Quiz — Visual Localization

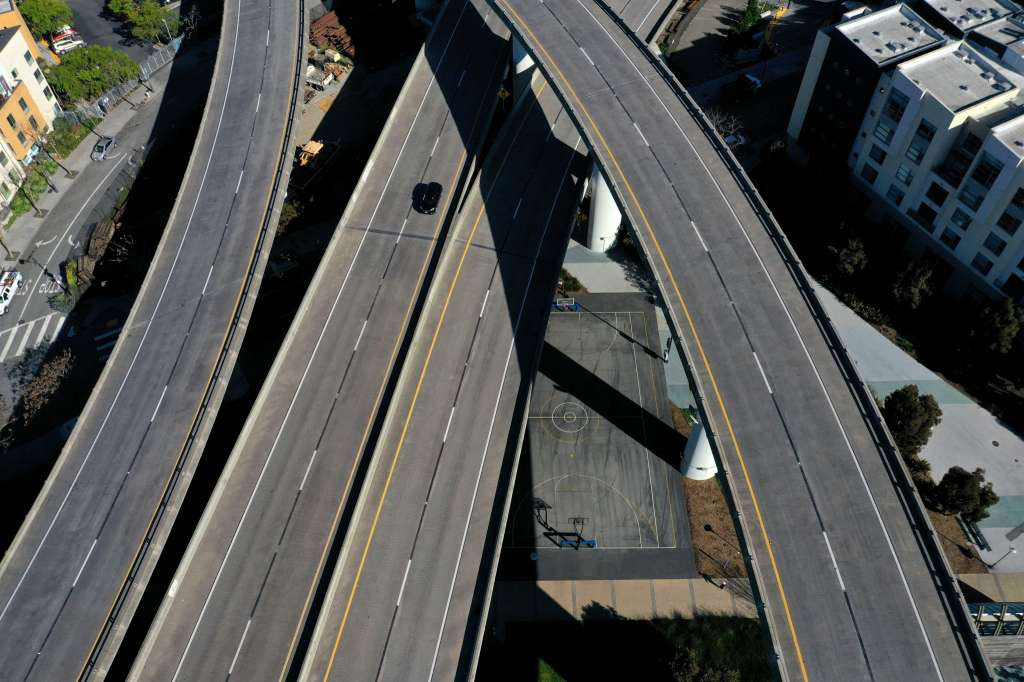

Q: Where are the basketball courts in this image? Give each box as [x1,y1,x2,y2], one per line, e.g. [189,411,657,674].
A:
[495,293,697,578]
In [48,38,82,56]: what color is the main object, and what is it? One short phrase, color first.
white car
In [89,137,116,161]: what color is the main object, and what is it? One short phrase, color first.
gray car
